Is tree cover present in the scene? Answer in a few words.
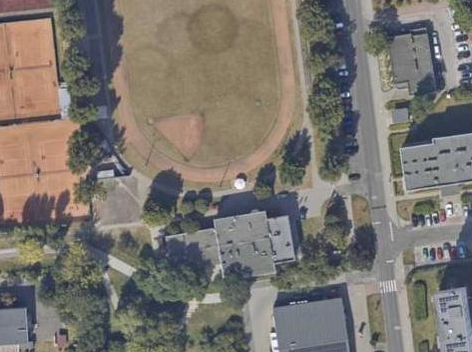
Yes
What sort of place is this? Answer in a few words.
sports ground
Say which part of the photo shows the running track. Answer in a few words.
top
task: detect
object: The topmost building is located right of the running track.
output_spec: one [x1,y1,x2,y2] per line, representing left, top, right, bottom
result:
[391,28,436,94]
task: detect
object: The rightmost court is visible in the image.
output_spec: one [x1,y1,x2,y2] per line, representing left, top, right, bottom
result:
[34,121,88,217]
